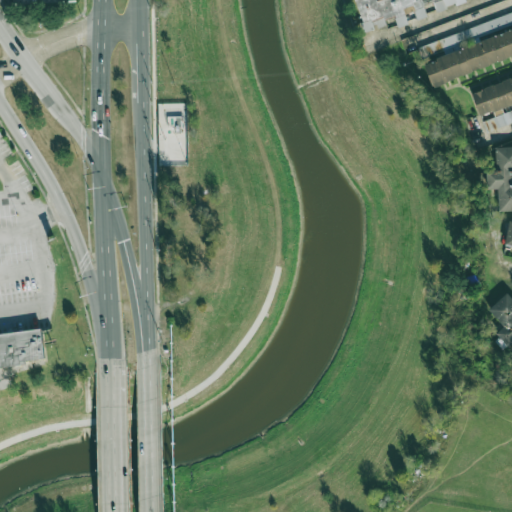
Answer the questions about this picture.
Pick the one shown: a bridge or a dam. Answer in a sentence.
There is a bridge in the scene.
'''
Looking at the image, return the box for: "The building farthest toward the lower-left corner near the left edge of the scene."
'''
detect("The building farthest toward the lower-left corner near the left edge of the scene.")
[0,329,45,370]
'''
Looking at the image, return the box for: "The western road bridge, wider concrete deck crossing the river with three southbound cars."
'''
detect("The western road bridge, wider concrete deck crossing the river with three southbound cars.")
[96,364,130,512]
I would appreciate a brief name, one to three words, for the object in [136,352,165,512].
bridge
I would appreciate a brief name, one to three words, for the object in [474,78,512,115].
building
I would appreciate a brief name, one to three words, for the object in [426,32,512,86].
building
